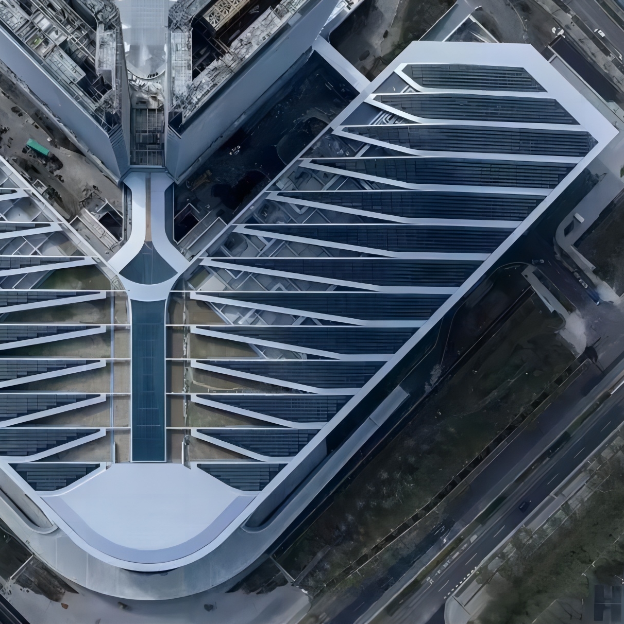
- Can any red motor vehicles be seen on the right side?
No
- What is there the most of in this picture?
buildings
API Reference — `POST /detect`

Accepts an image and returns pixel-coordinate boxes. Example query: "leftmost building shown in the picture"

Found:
[0,0,128,180]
